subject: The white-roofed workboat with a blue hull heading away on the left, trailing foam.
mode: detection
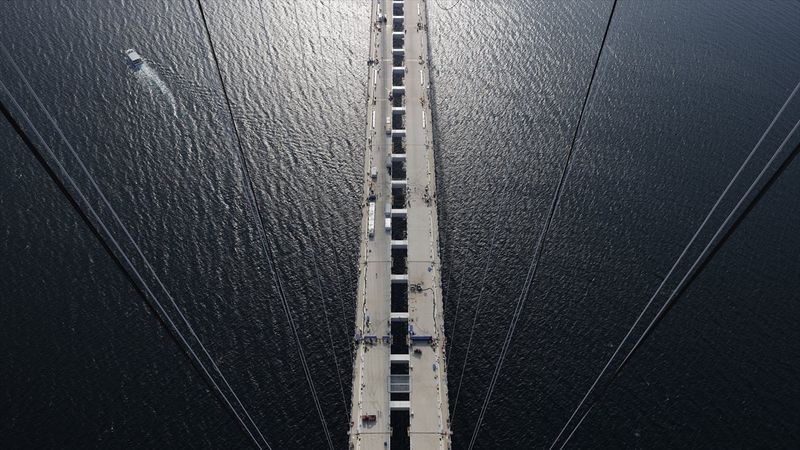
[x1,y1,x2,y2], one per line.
[126,49,143,67]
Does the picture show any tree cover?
No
